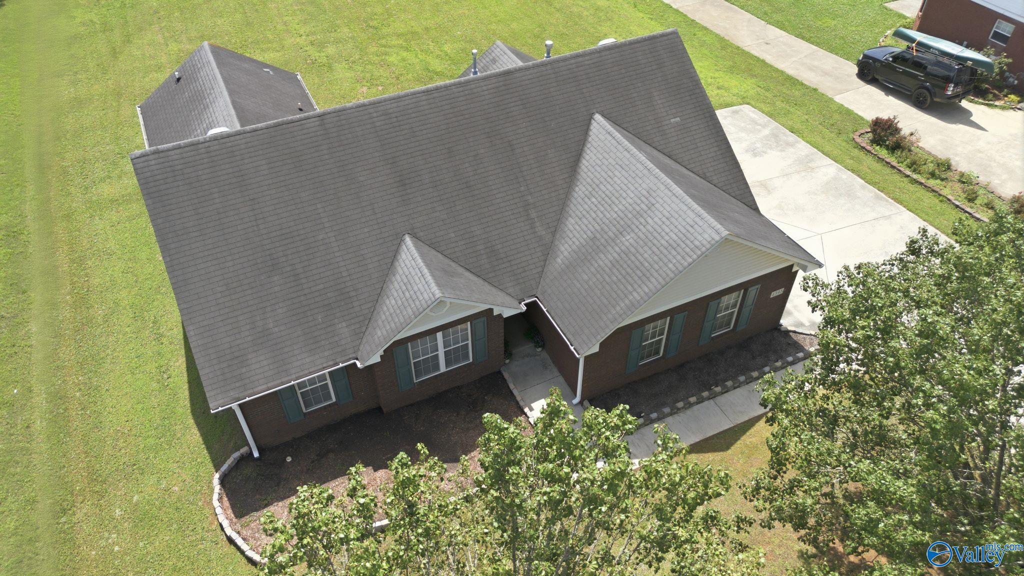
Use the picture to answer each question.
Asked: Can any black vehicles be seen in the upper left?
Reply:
No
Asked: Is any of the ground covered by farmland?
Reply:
No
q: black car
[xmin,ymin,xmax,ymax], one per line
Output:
[858,43,981,109]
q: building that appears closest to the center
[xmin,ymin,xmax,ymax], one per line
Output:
[132,30,823,461]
